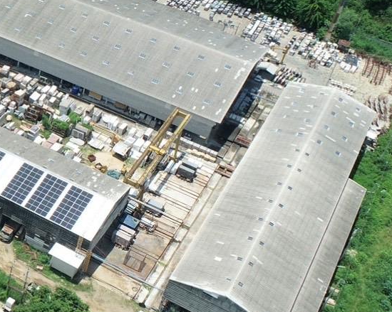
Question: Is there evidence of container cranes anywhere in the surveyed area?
Yes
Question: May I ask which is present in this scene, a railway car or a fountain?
railway car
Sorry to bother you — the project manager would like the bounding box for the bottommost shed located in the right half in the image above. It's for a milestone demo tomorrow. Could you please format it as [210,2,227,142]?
[160,83,375,312]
